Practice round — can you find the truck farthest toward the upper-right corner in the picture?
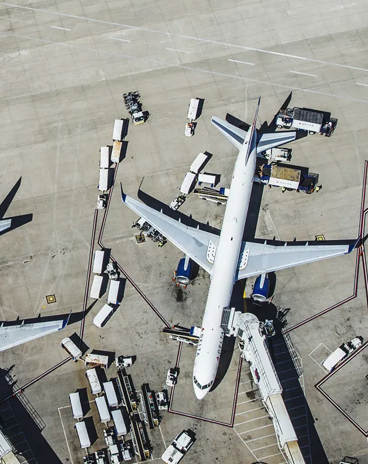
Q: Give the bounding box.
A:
[280,109,336,138]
